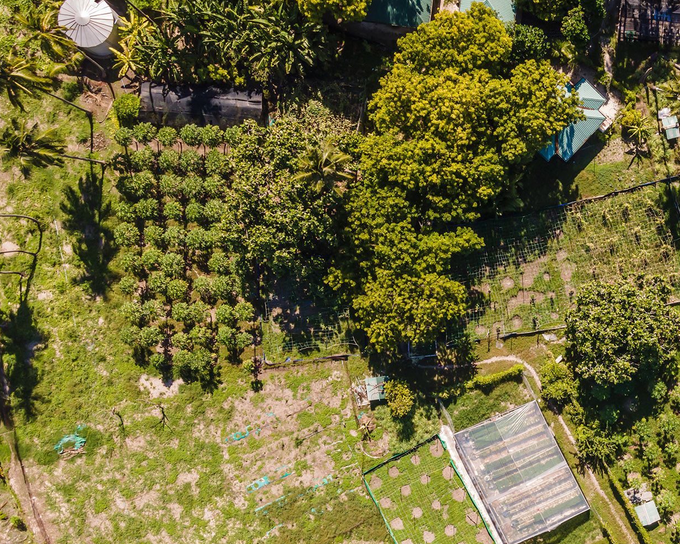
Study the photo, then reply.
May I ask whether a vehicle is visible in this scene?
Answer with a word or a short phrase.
No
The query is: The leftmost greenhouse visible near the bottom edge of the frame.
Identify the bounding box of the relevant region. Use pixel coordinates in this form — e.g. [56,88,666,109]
[455,400,590,544]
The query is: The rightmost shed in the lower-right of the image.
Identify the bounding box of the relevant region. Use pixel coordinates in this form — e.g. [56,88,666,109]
[633,501,663,526]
